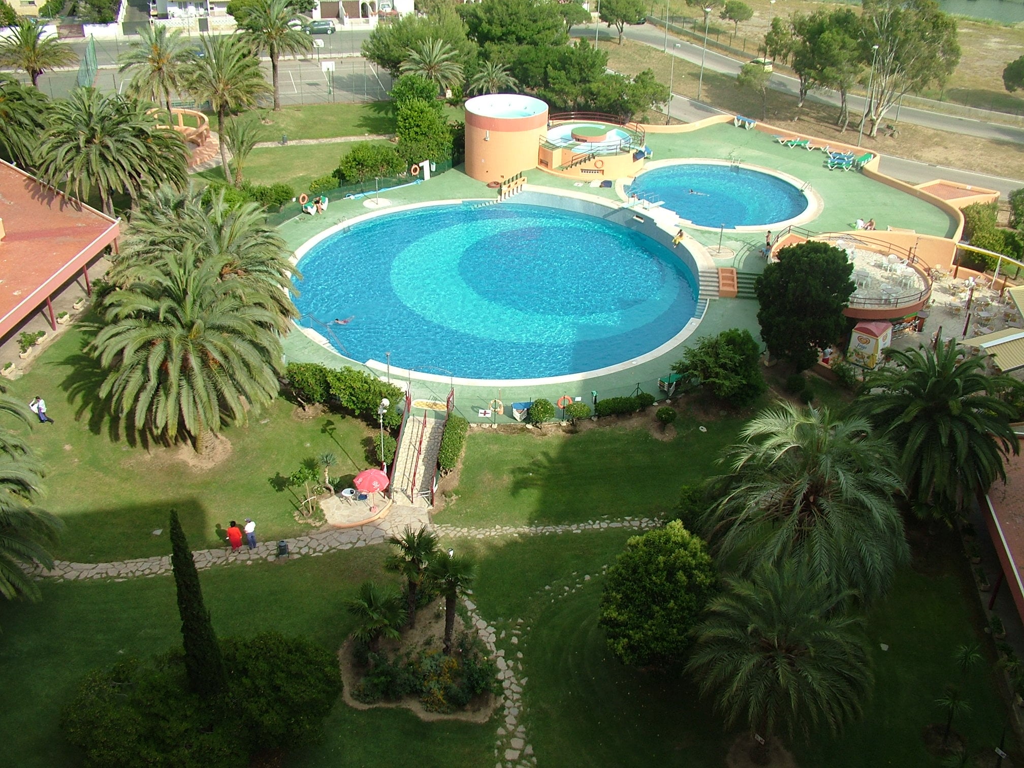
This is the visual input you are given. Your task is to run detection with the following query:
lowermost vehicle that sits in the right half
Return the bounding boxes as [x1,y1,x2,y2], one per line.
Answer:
[744,56,781,74]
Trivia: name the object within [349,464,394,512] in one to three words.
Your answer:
umbrella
